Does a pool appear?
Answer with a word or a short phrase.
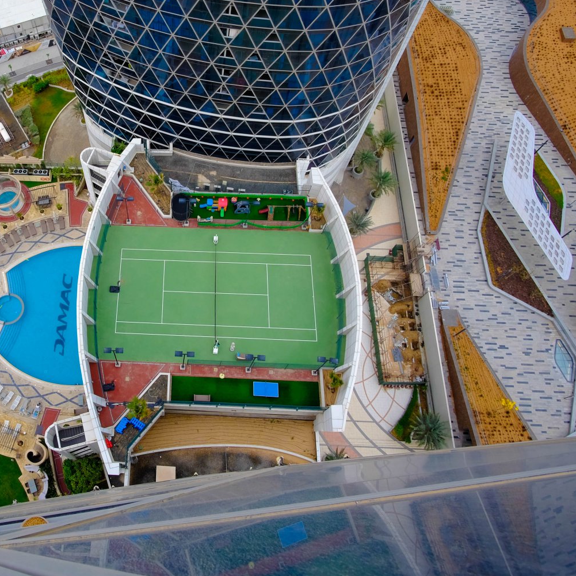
Yes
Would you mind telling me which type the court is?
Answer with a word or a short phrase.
tennis court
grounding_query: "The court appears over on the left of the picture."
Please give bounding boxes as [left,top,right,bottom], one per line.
[87,227,345,365]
